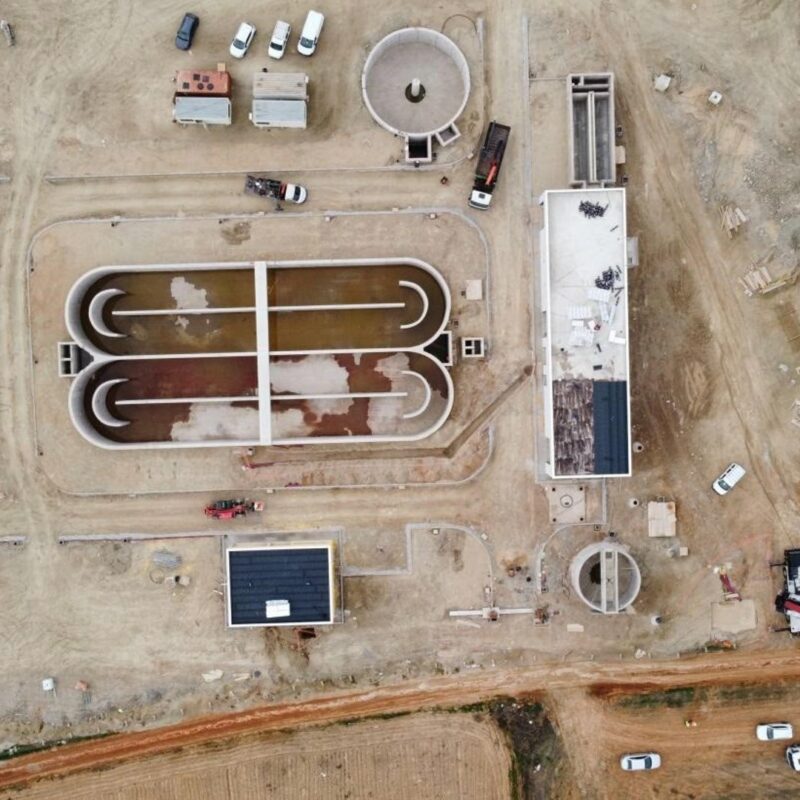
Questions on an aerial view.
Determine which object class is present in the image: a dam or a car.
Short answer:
car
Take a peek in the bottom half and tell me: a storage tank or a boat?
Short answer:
storage tank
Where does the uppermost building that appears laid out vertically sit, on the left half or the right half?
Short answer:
right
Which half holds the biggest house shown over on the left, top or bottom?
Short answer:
bottom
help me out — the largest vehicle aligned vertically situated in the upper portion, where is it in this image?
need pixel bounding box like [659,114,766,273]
[467,119,511,212]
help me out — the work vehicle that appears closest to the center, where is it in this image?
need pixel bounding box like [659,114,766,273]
[203,498,250,520]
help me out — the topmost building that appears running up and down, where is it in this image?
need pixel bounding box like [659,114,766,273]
[535,188,639,477]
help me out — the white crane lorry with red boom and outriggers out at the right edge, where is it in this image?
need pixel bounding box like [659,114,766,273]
[762,548,800,639]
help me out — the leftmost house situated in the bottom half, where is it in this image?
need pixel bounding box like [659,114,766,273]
[227,534,338,628]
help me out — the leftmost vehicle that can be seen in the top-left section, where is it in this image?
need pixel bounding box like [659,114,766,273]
[176,12,200,54]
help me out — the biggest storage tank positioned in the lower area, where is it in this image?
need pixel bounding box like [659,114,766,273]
[570,541,641,616]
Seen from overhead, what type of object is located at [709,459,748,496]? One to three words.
van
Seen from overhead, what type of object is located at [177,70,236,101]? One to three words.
building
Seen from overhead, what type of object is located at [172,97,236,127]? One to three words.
building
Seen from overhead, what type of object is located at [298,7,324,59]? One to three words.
vehicle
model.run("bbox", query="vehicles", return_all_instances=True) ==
[762,548,800,639]
[298,7,324,59]
[709,459,748,496]
[242,177,308,205]
[269,20,291,62]
[467,119,511,212]
[753,720,792,741]
[203,498,250,520]
[176,12,200,54]
[620,749,660,771]
[228,20,257,61]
